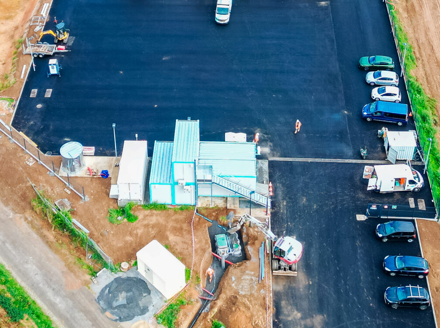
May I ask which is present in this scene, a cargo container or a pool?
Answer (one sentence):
Looking from above, you can make out a cargo container.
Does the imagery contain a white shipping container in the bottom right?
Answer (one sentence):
No, no white shipping container is visible in the bottom right.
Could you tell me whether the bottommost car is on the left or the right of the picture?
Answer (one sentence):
It is on the right.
